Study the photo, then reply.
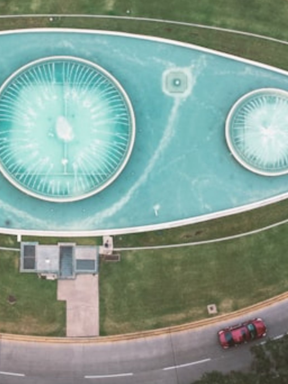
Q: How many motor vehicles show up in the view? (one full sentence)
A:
The picture shows 1 motor vehicle.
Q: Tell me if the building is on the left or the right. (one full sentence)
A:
The building sits on the left side.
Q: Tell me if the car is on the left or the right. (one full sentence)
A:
The car is on the right side of the image.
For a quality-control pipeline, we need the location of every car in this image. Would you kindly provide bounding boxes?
[218,320,266,348]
